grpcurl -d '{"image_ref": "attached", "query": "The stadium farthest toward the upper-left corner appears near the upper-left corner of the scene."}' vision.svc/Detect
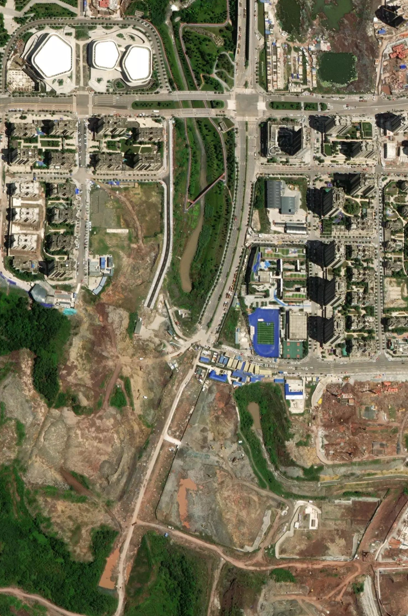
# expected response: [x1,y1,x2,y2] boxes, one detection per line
[31,32,74,81]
